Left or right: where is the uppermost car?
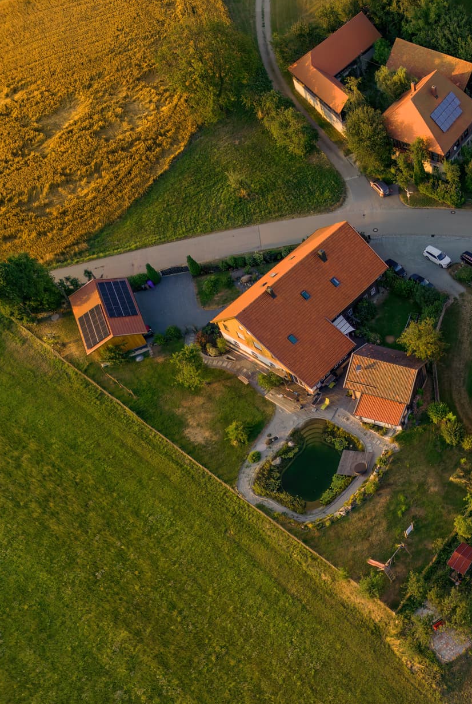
right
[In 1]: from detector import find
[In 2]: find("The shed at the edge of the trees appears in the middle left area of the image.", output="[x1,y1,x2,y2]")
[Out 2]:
[69,277,150,364]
